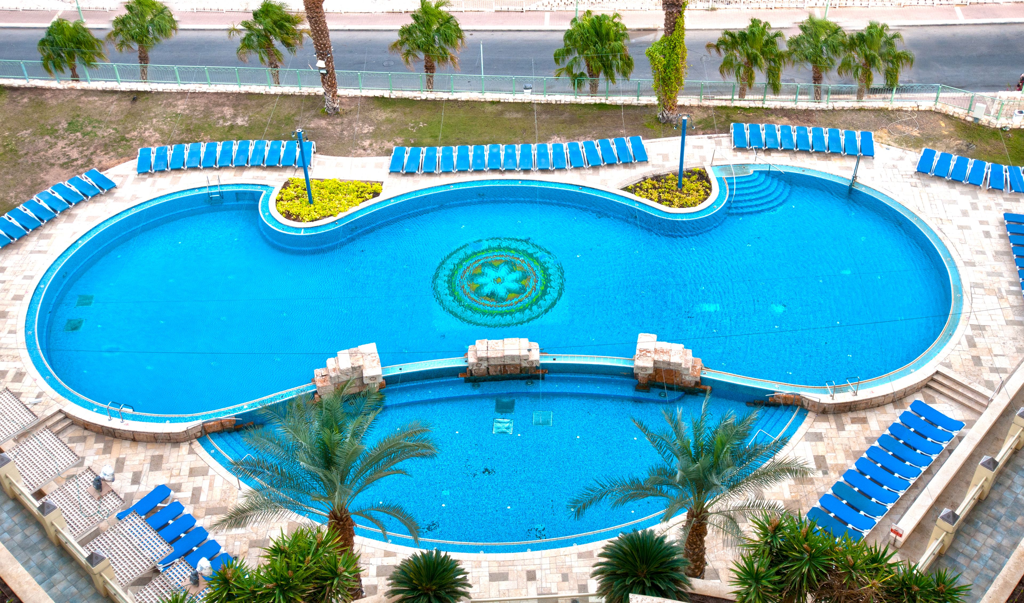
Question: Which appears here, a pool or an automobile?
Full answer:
This aerial view contains a pool.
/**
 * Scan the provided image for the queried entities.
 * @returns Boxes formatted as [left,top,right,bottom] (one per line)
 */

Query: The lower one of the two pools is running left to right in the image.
[207,374,800,544]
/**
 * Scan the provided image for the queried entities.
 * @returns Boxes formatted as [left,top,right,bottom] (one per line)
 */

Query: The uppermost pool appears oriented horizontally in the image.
[36,170,952,415]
